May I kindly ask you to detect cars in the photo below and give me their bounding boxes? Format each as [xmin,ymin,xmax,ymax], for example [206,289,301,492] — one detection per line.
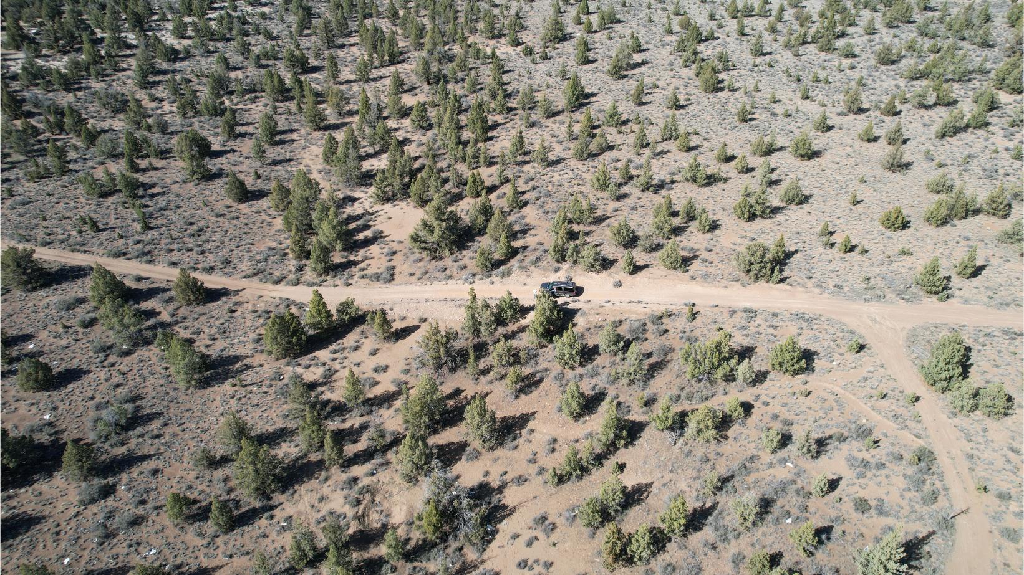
[539,279,578,296]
